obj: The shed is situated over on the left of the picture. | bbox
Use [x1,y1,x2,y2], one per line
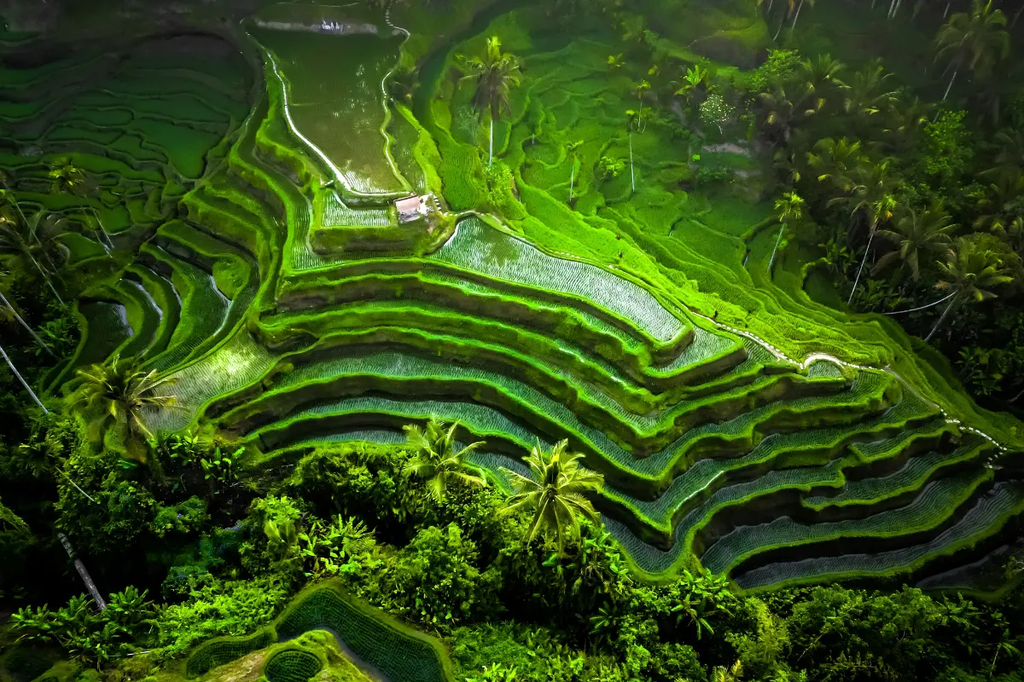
[394,199,421,222]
